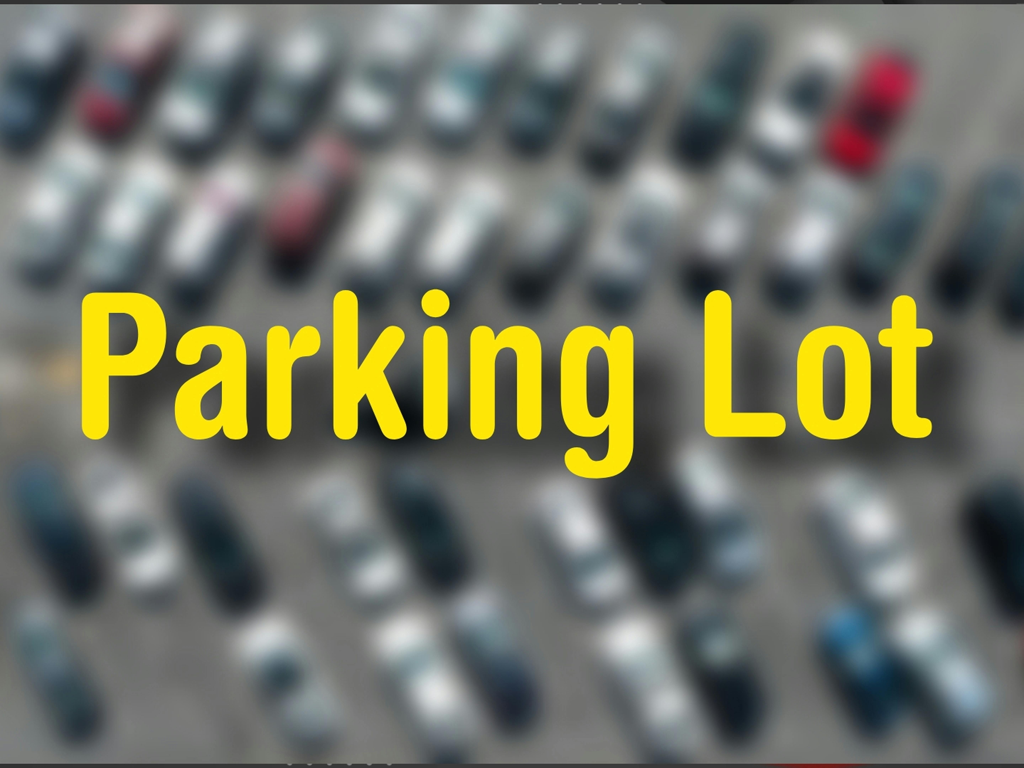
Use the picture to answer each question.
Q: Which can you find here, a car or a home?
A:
car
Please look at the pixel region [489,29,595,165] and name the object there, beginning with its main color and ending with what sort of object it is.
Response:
gray car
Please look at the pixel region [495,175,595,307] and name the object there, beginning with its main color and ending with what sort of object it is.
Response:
gray car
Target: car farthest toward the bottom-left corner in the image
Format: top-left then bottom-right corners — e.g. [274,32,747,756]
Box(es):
[8,604,113,753]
